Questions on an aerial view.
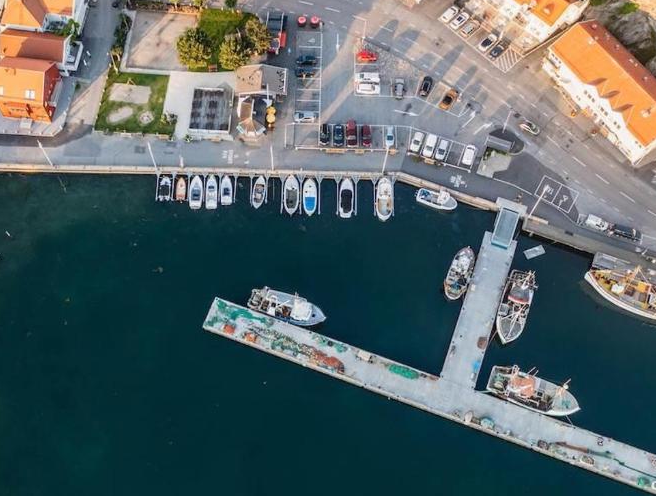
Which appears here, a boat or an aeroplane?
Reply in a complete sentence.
I can see a boat in this picture.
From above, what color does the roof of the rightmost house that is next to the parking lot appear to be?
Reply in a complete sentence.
The color of the roof on the rightmost house that is next to the parking lot is orange.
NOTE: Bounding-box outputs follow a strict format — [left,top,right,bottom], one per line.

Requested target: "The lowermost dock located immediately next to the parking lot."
[201,231,656,496]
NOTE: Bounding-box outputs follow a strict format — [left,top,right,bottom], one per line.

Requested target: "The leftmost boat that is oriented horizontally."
[246,289,327,324]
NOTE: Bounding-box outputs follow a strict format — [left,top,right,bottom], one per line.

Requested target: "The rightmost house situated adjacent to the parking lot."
[542,22,656,164]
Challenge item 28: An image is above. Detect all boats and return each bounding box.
[158,172,170,203]
[443,245,475,304]
[252,175,265,209]
[283,176,299,216]
[302,177,317,216]
[582,269,656,315]
[221,175,232,205]
[496,265,538,346]
[376,180,394,222]
[176,175,186,202]
[246,289,327,324]
[205,174,217,209]
[487,368,582,415]
[338,178,354,218]
[413,188,458,208]
[189,174,203,210]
